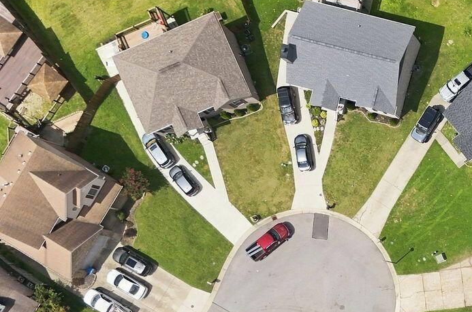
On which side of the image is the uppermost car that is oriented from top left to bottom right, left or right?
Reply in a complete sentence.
The uppermost car that is oriented from top left to bottom right sits on the left side.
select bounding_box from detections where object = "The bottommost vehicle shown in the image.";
[80,286,137,312]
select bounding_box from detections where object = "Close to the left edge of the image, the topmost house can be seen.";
[0,129,128,281]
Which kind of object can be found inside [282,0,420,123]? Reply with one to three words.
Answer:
house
